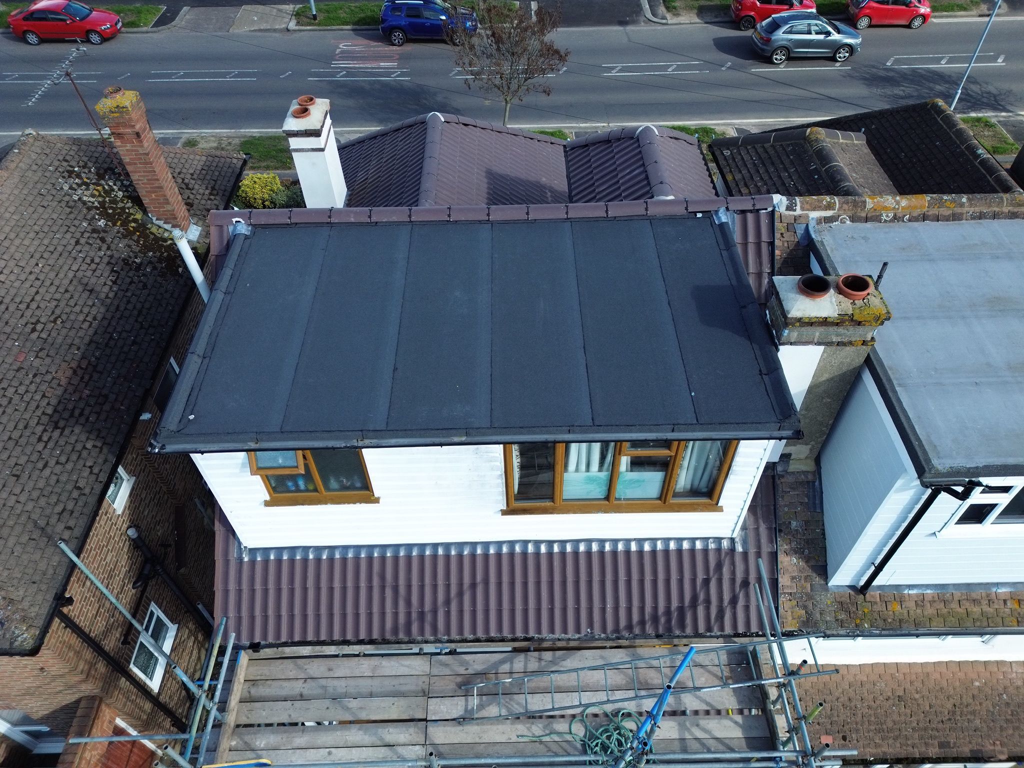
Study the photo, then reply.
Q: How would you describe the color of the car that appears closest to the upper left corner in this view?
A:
red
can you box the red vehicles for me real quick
[728,0,820,29]
[6,0,125,45]
[844,0,933,29]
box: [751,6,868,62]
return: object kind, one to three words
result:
car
